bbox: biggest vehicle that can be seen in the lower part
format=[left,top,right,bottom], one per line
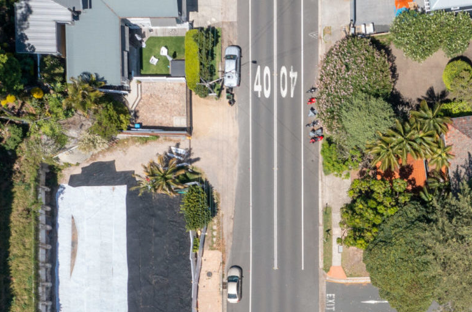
[225,267,243,303]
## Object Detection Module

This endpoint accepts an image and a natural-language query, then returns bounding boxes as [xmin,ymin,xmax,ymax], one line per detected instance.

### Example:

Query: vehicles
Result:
[304,120,320,127]
[225,267,243,303]
[222,45,241,87]
[309,135,324,143]
[303,95,319,104]
[309,127,325,137]
[304,107,323,118]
